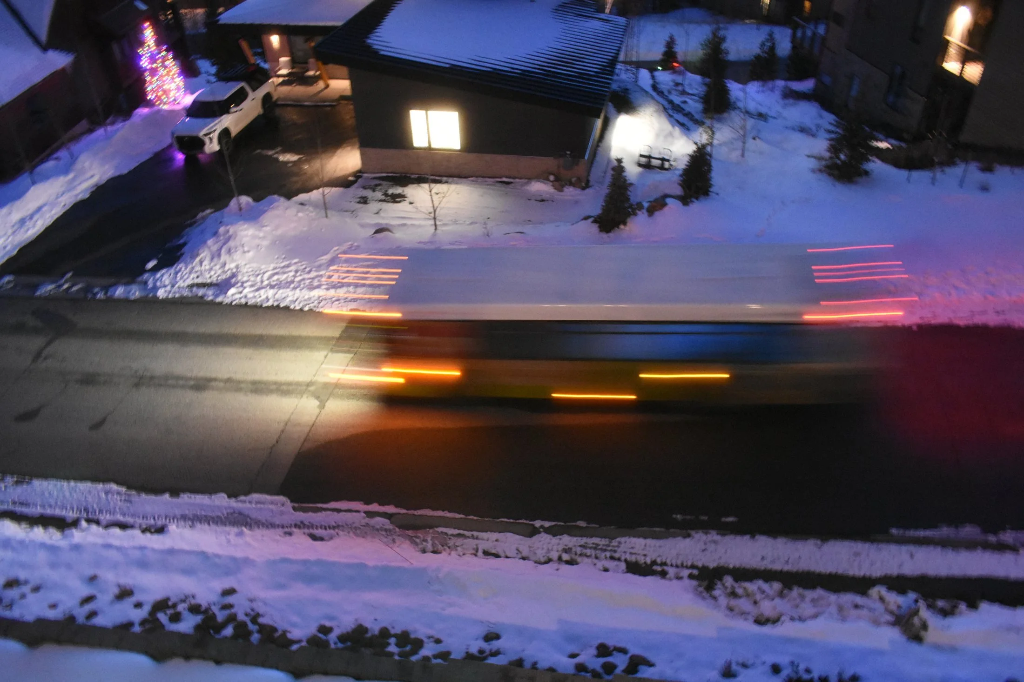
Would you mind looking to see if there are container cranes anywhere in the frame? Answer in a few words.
No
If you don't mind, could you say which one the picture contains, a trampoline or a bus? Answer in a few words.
bus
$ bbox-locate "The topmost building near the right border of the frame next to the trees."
[793,0,1024,143]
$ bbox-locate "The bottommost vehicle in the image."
[342,254,870,412]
